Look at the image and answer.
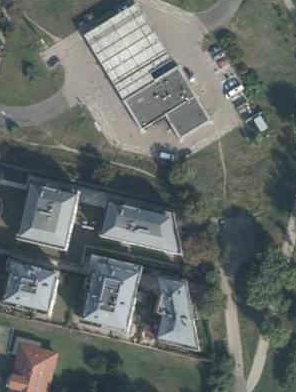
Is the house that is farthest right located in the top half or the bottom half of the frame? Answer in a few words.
bottom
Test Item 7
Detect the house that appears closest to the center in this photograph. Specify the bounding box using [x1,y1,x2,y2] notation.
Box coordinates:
[99,202,181,256]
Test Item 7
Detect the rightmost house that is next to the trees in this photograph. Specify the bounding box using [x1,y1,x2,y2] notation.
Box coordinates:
[158,278,200,350]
